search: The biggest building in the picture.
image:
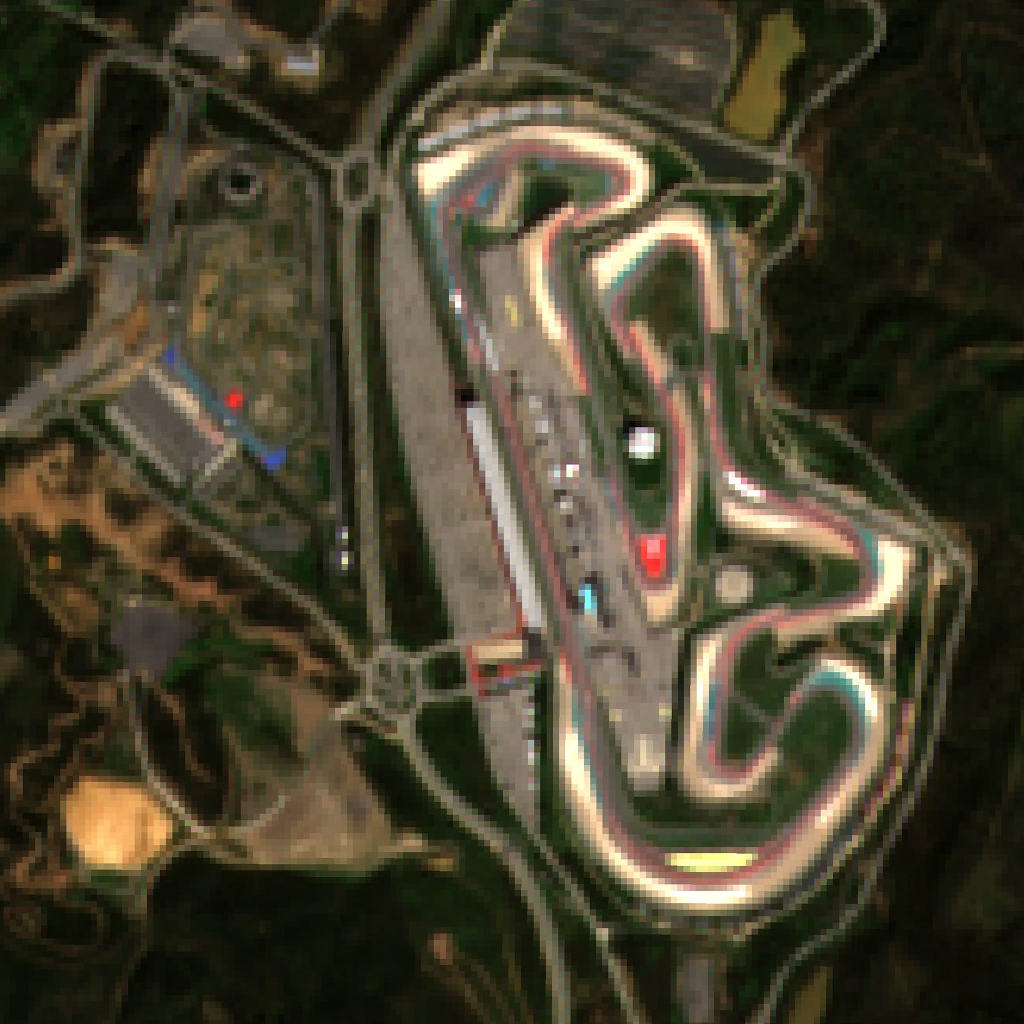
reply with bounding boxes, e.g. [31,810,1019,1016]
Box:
[472,643,536,686]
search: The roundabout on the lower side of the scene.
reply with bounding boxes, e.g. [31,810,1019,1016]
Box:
[366,648,421,715]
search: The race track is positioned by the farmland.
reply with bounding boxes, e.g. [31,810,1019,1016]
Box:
[444,145,872,883]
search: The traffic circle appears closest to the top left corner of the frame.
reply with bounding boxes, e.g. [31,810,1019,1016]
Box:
[335,149,377,208]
